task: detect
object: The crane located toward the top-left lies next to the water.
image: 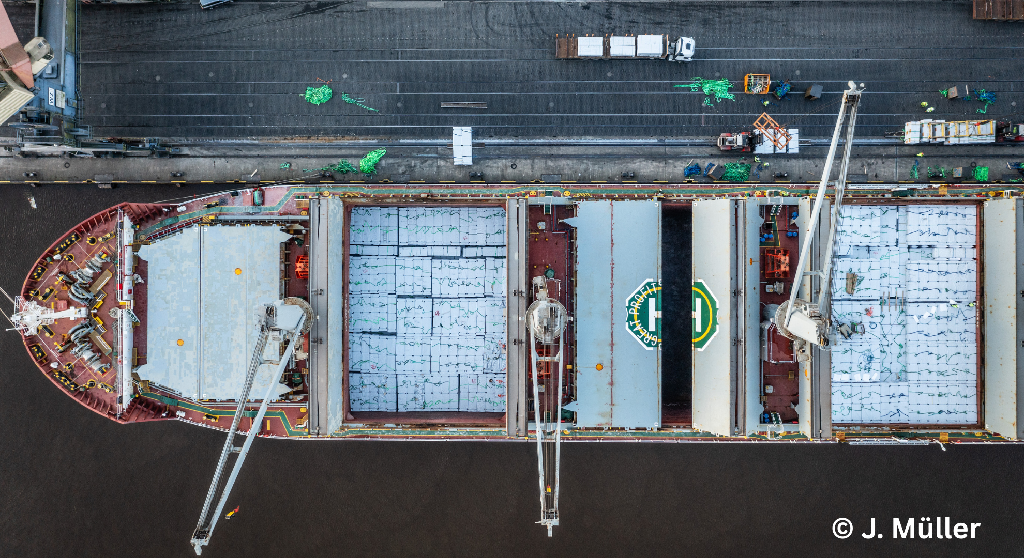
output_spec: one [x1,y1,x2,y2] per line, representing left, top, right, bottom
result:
[0,0,179,158]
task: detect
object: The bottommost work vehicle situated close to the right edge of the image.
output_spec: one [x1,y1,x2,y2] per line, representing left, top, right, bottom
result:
[995,122,1024,142]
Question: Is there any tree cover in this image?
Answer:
No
